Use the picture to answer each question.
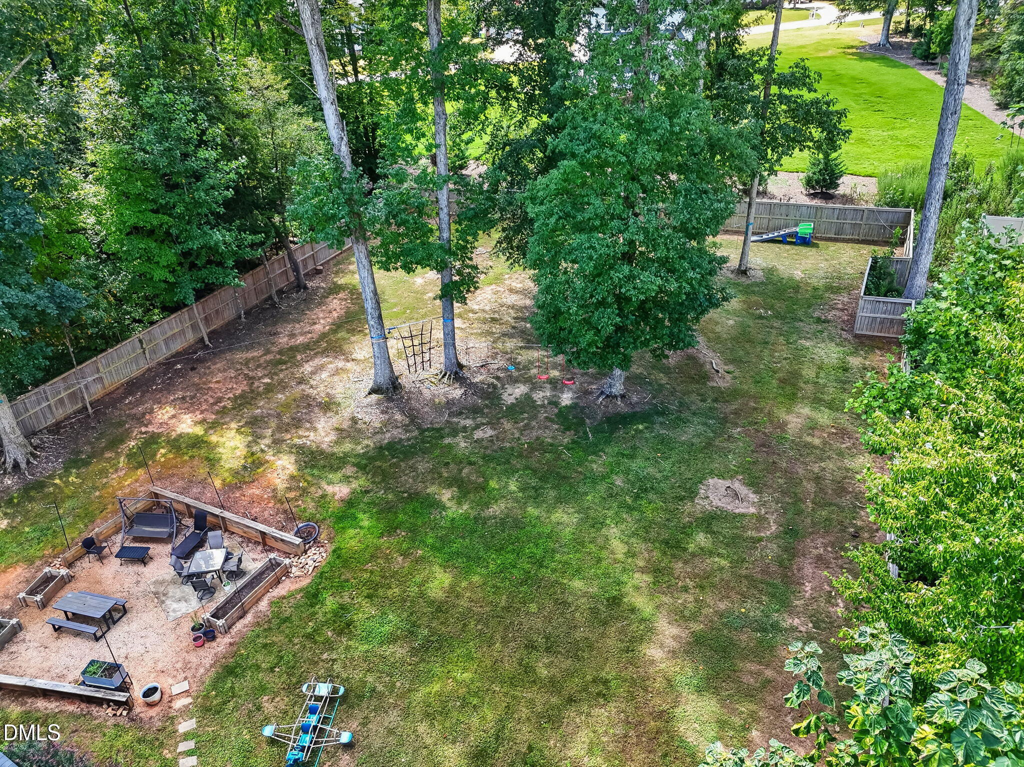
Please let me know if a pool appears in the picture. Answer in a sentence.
No, the frame has no pool in it.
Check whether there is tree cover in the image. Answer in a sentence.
Yes, tree cover can be seen from above here.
